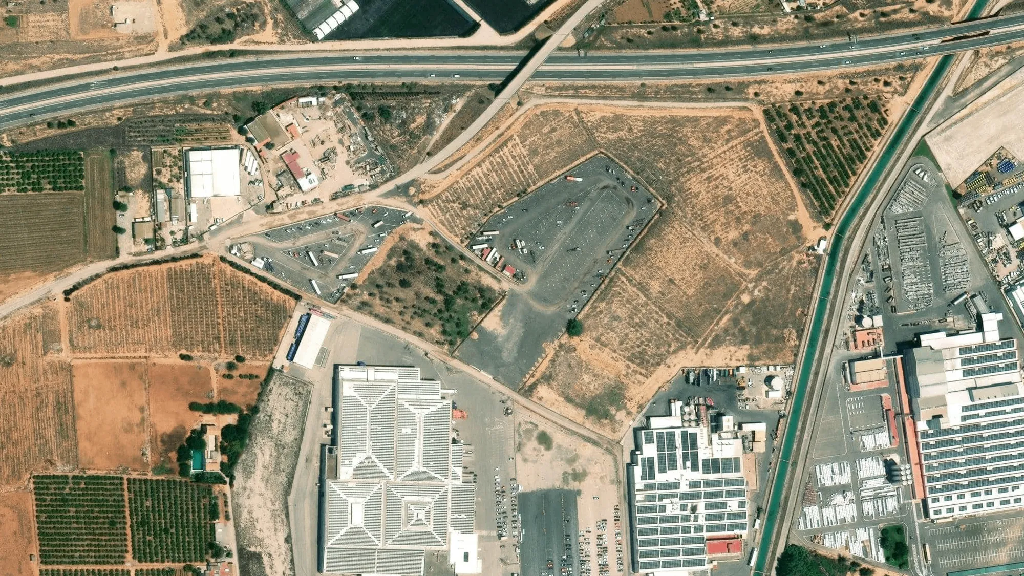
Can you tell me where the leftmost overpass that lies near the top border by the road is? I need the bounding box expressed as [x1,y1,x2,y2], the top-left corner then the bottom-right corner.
[383,0,603,194]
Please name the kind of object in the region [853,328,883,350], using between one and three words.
building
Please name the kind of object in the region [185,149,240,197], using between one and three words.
building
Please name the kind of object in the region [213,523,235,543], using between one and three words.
house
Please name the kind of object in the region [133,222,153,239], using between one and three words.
barn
